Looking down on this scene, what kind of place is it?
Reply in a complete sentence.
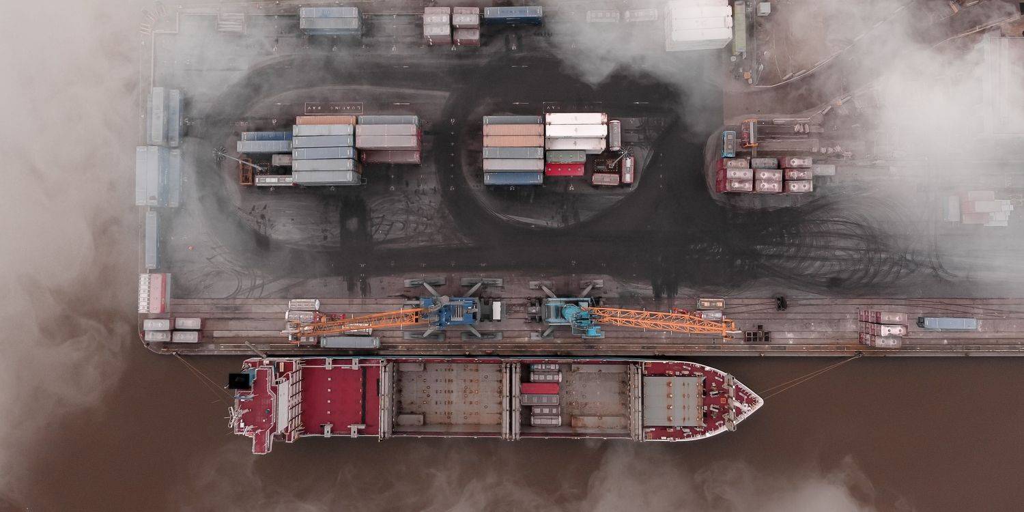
This looks like a port.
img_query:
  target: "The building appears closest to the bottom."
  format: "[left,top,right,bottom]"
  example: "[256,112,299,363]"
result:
[964,35,1024,141]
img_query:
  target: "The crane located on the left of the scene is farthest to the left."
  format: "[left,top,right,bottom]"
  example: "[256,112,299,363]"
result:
[285,278,505,342]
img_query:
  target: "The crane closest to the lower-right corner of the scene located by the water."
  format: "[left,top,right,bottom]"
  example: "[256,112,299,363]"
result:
[527,280,737,339]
